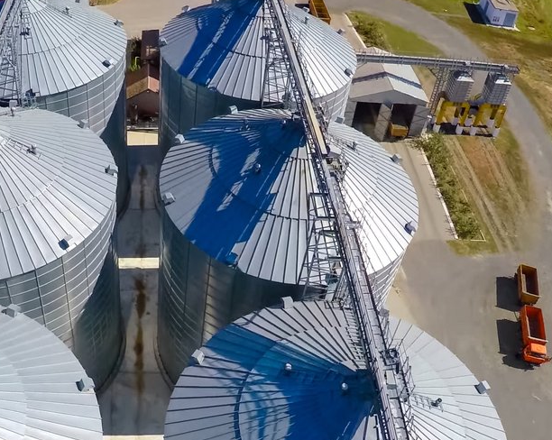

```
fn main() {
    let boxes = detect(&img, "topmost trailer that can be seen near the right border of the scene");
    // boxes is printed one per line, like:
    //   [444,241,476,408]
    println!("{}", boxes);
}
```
[509,261,538,308]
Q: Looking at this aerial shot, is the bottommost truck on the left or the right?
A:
right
